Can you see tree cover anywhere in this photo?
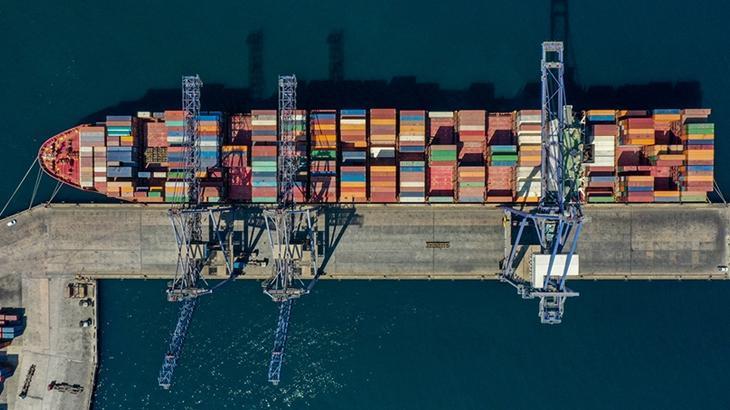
No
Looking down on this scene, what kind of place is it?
port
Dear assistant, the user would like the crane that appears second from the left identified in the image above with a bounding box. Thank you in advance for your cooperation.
[264,76,324,385]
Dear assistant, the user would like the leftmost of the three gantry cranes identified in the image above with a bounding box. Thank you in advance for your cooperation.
[157,76,245,389]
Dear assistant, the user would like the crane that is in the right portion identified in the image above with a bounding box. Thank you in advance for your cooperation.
[495,39,582,322]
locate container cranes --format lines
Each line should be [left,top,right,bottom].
[264,76,324,385]
[495,39,582,322]
[157,76,245,389]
